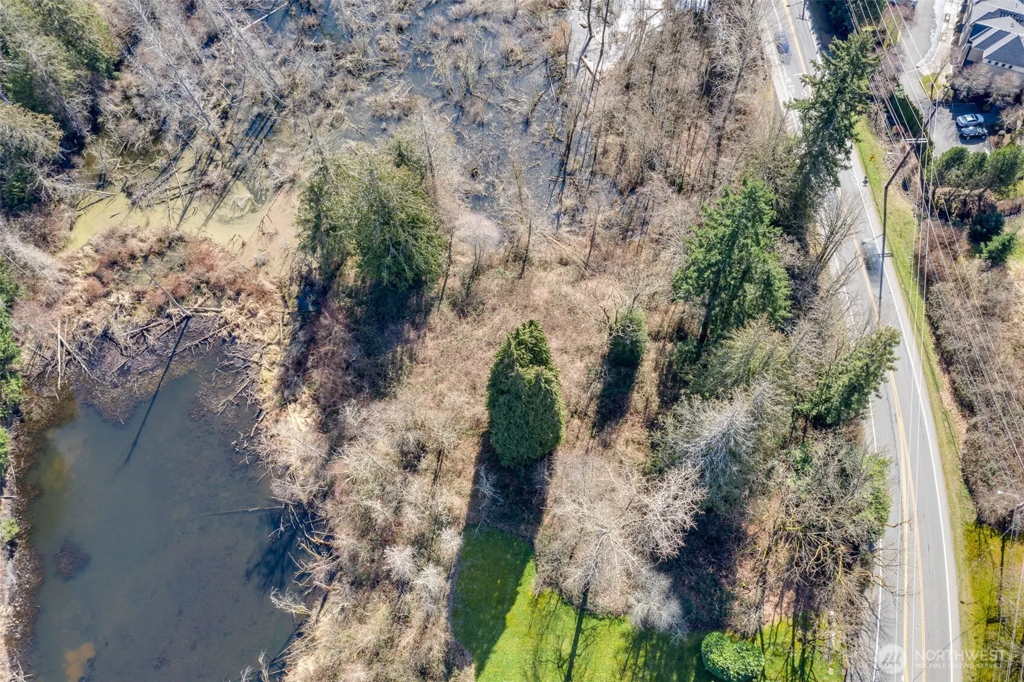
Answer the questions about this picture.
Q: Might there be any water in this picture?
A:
Yes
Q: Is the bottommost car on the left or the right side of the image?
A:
right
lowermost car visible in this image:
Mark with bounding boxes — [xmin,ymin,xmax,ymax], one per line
[865,253,887,281]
